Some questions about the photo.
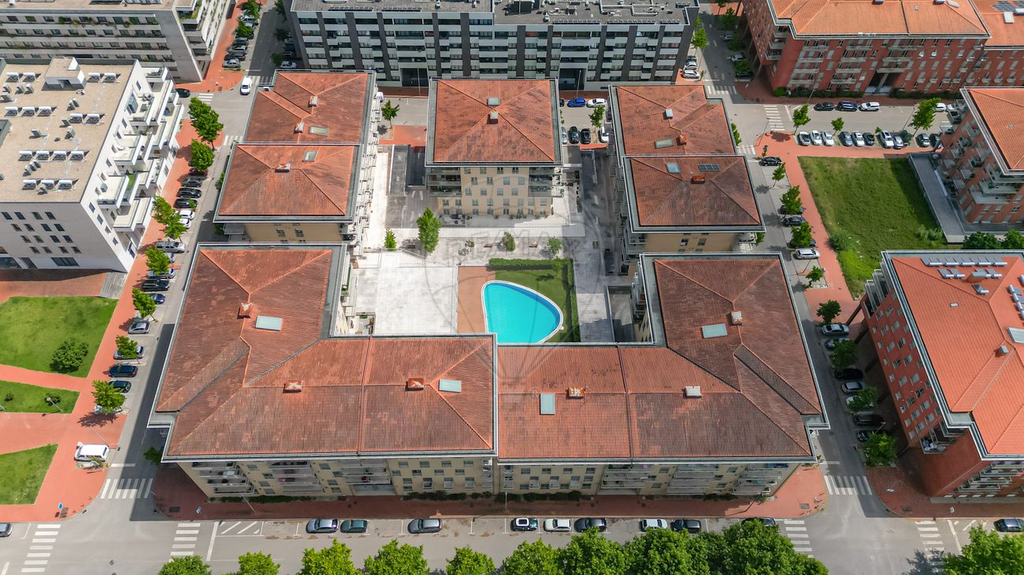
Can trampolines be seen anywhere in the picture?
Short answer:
No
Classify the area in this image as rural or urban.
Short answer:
urban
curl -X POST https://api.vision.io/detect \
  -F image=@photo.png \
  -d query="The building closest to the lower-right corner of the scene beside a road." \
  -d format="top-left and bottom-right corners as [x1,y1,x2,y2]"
[851,251,1024,503]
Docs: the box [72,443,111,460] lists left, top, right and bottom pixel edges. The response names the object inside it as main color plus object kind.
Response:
white vehicle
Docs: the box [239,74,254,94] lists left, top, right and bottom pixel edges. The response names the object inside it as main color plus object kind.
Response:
white vehicle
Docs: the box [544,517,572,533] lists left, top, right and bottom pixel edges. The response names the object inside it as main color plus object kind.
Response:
white car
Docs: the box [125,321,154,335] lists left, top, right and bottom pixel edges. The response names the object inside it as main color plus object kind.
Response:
gray car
